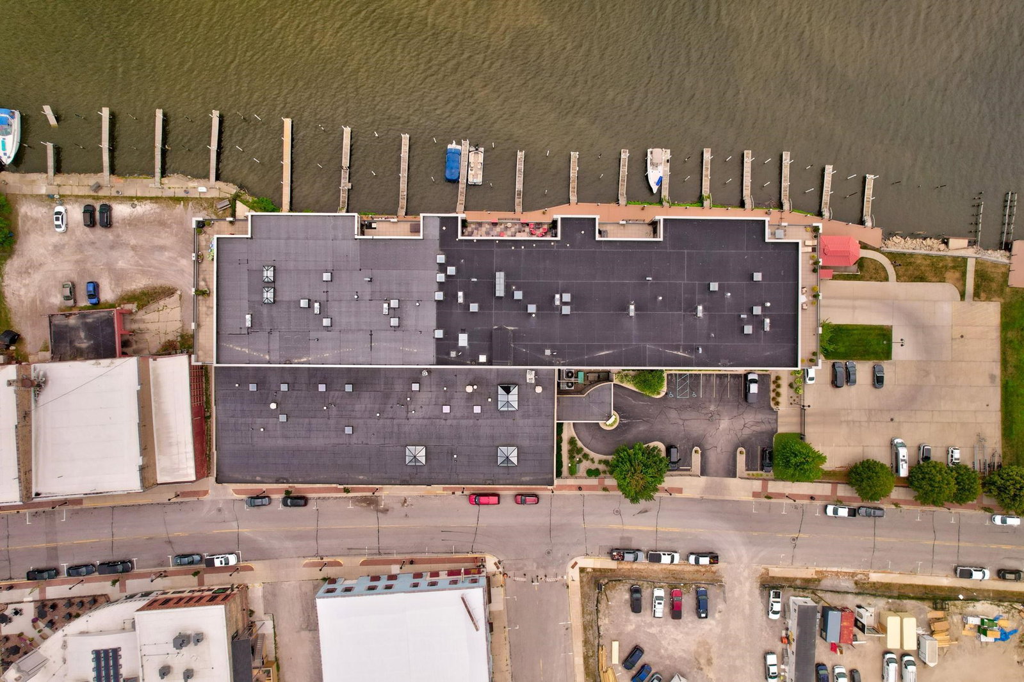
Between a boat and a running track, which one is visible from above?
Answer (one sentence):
I can see a boat in this picture.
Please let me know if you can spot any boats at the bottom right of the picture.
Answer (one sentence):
No, at the bottom right of the picture there is no boat.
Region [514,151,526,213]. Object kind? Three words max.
pier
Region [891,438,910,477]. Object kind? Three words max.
vehicle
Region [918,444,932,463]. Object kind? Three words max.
car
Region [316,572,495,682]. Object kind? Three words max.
building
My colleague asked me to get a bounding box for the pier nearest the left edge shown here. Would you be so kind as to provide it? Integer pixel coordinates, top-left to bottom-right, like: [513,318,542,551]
[43,142,60,185]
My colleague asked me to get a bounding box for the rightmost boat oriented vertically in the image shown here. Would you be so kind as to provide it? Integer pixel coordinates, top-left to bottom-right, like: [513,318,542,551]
[647,147,664,192]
